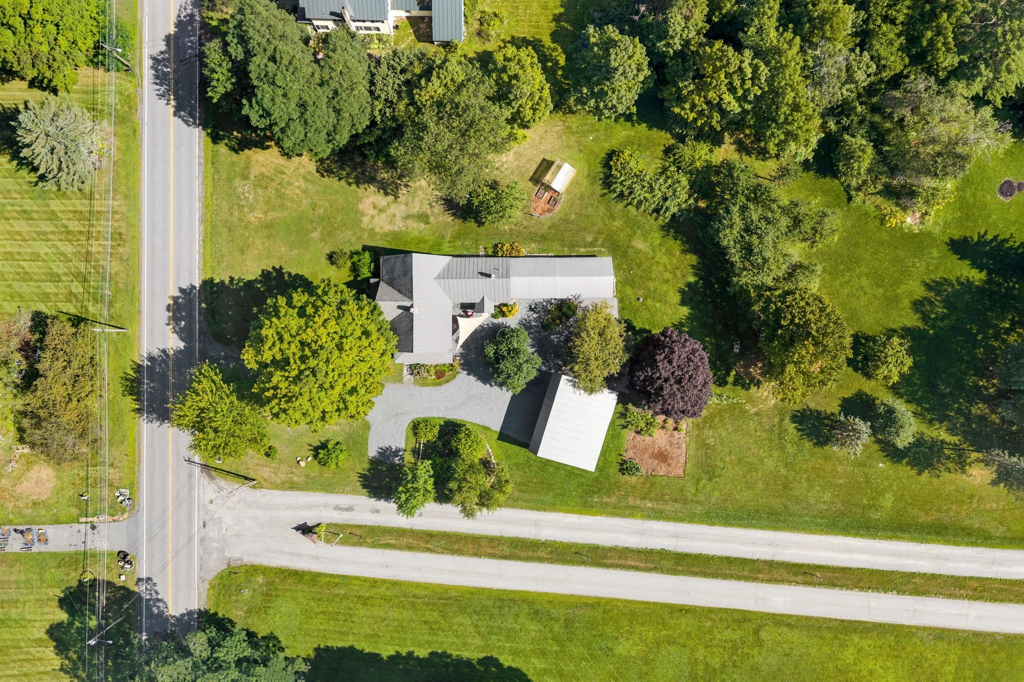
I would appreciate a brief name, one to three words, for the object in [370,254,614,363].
house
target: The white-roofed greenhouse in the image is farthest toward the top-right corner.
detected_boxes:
[543,158,576,195]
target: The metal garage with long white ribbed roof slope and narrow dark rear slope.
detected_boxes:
[528,373,618,472]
